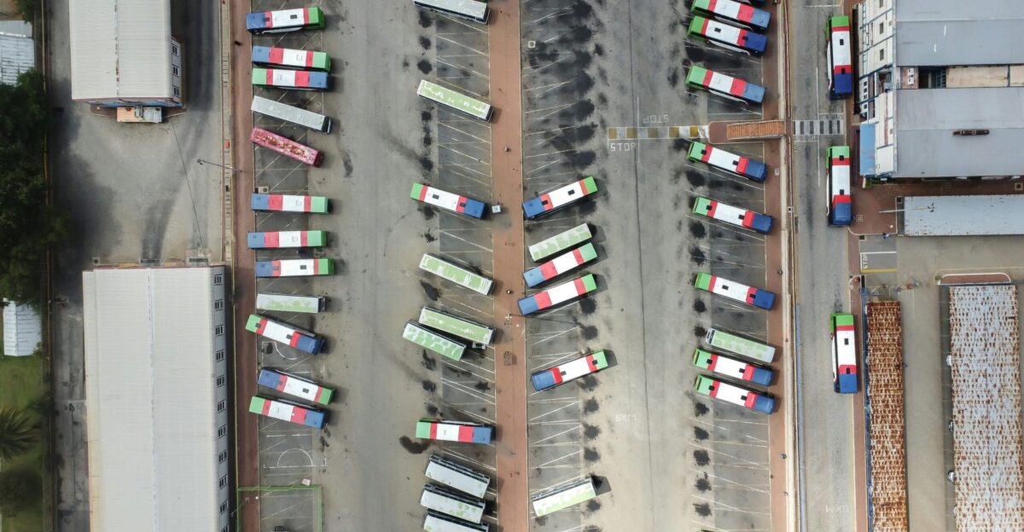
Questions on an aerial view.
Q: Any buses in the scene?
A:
Yes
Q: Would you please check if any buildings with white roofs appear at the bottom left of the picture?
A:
Yes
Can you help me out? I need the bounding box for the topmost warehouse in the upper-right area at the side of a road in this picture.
[859,0,1024,186]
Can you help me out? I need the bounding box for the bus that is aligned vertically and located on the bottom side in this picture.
[827,313,856,396]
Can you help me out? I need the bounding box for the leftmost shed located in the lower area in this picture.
[3,298,50,357]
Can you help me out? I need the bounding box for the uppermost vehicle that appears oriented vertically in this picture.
[823,16,851,101]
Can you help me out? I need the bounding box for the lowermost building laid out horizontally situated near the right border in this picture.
[896,195,1024,236]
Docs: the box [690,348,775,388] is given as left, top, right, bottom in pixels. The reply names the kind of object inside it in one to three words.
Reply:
bus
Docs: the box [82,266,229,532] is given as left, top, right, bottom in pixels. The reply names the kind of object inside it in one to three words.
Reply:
building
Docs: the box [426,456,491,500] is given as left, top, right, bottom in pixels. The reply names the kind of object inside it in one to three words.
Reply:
bus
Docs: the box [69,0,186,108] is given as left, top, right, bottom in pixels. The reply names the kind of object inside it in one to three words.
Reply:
building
